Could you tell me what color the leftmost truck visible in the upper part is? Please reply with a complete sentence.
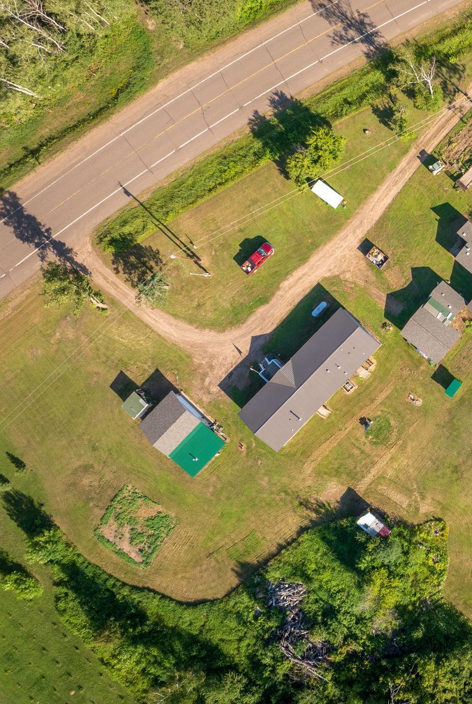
The leftmost truck visible in the upper part looks red in the image.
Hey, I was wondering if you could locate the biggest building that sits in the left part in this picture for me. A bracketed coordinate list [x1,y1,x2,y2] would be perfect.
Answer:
[139,387,229,478]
